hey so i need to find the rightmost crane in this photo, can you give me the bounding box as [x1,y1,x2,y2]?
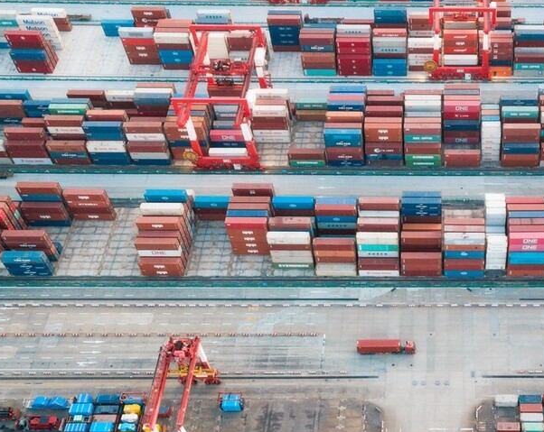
[423,0,496,77]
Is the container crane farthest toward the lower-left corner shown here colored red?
Yes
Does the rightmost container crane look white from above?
No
